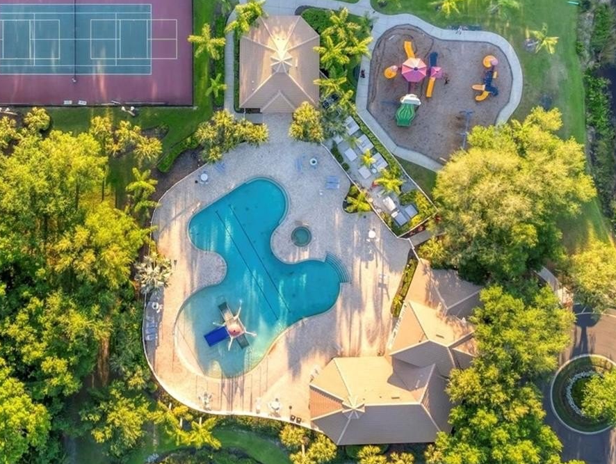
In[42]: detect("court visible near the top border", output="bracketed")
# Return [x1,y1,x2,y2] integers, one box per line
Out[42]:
[0,0,193,104]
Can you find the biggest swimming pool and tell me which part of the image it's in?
center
